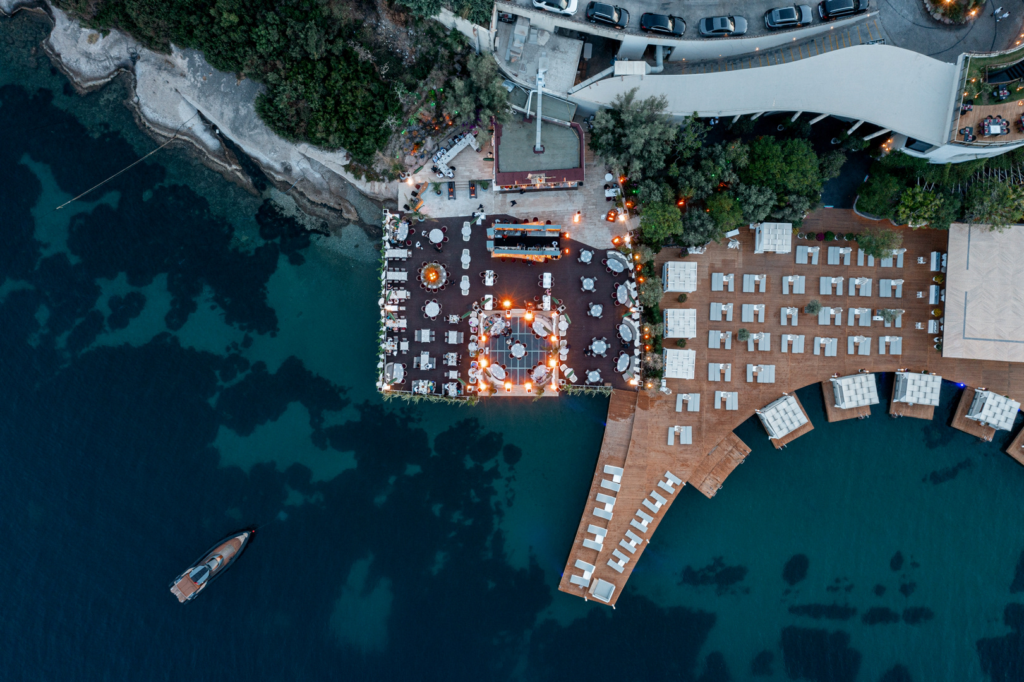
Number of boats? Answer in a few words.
1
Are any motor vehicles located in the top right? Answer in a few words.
Yes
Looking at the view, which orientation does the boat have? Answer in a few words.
at an angle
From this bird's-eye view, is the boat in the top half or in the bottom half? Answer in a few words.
bottom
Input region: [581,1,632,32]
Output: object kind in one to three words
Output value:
car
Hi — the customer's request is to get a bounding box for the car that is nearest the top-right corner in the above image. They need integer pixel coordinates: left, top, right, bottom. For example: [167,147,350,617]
[814,0,868,24]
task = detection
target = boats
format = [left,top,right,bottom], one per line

[164,531,253,604]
